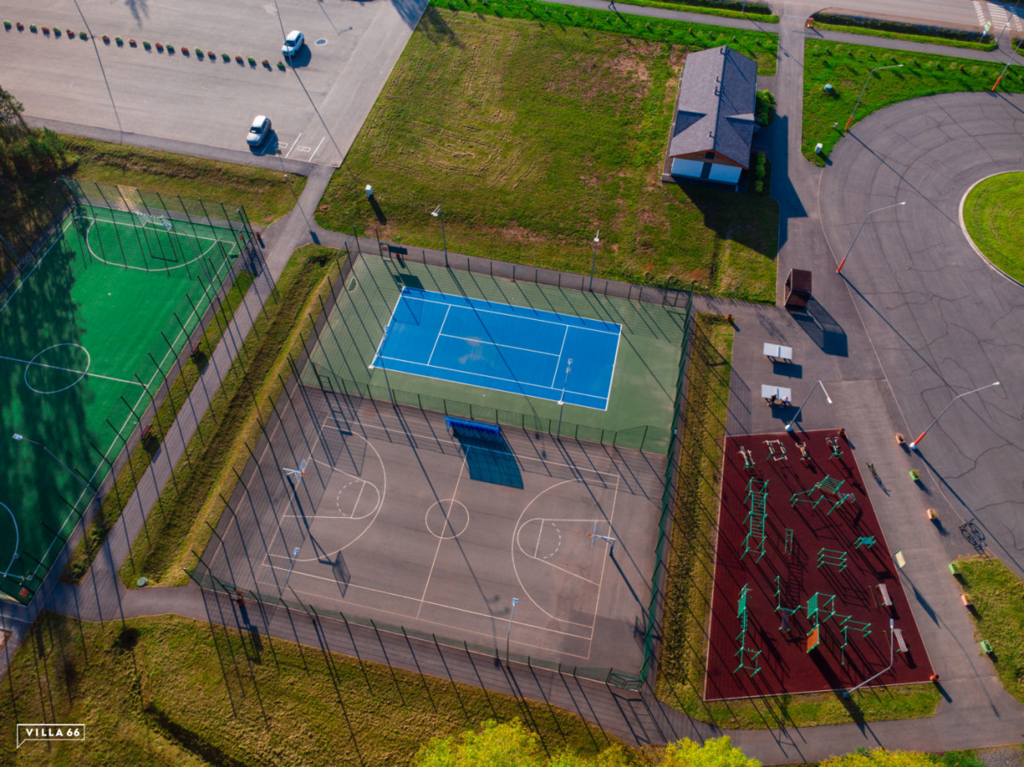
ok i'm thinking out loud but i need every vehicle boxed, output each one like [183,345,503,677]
[244,117,271,146]
[280,29,302,54]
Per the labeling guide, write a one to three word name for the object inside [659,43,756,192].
house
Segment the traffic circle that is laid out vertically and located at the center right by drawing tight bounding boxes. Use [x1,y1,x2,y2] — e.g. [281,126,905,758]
[820,92,1024,578]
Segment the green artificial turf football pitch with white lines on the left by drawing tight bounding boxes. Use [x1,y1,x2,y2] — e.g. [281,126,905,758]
[0,203,254,608]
